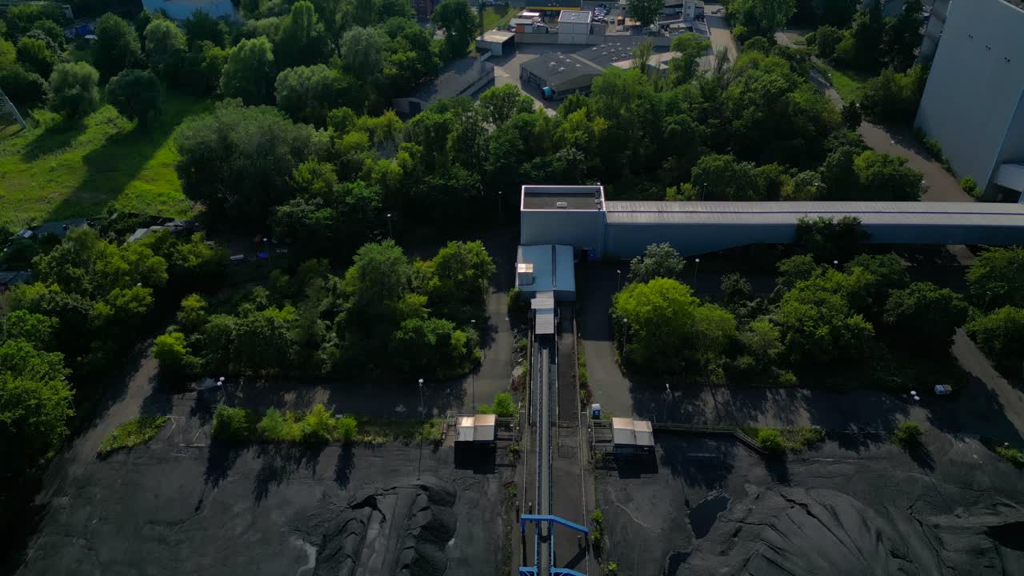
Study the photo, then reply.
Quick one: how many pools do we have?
none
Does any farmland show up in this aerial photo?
No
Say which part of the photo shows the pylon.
top left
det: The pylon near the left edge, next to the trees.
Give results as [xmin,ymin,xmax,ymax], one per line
[0,88,26,138]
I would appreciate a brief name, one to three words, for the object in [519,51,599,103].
building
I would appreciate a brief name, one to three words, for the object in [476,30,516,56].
shed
